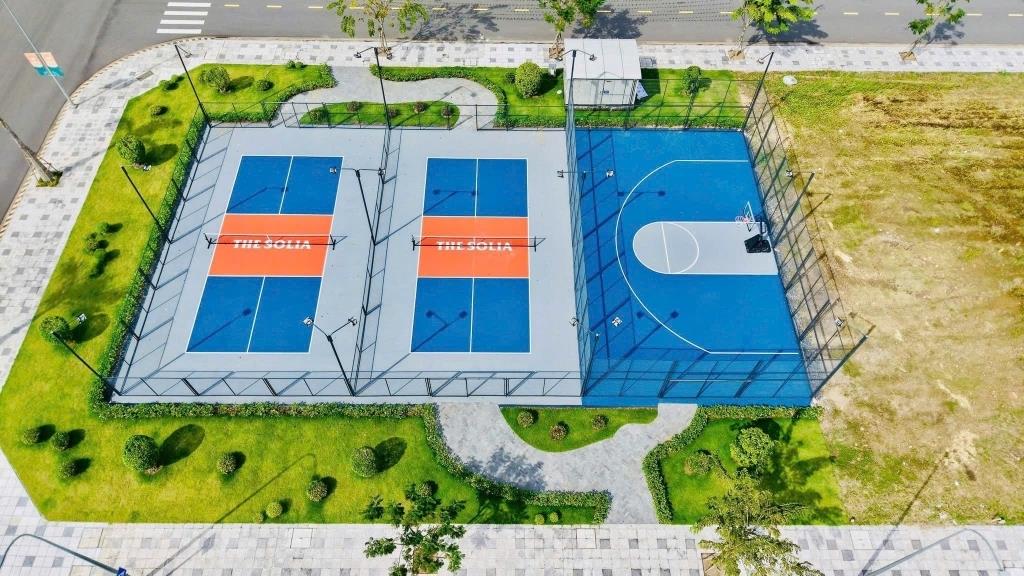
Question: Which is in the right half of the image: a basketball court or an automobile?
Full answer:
What appears in the right half of the image is a basketball court.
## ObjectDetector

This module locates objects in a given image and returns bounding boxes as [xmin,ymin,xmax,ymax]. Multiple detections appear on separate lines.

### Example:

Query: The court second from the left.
[354,126,585,405]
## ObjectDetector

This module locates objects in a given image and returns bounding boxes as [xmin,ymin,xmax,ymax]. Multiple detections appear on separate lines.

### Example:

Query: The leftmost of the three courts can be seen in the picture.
[109,123,389,404]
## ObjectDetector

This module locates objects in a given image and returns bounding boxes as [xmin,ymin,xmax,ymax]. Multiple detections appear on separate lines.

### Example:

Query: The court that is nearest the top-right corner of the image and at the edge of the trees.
[567,128,814,406]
